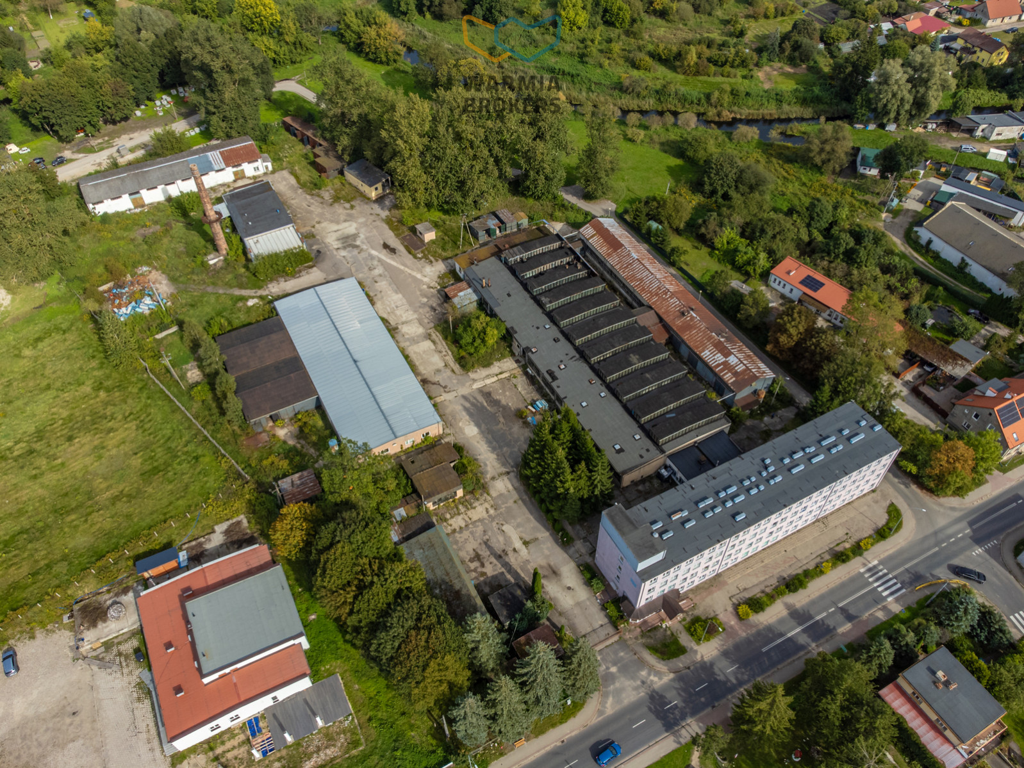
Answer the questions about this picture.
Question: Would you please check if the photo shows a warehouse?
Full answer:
Yes, the photo shows a warehouse.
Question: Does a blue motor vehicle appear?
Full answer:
Yes, a blue motor vehicle can be made out from above.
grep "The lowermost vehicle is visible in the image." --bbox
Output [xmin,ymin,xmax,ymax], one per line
[596,738,624,768]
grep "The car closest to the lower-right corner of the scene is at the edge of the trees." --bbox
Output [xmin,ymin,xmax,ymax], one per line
[956,563,989,584]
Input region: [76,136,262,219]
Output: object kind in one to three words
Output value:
shed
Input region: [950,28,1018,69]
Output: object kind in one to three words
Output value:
house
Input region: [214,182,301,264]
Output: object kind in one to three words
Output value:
building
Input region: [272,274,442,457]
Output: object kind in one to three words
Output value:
warehouse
